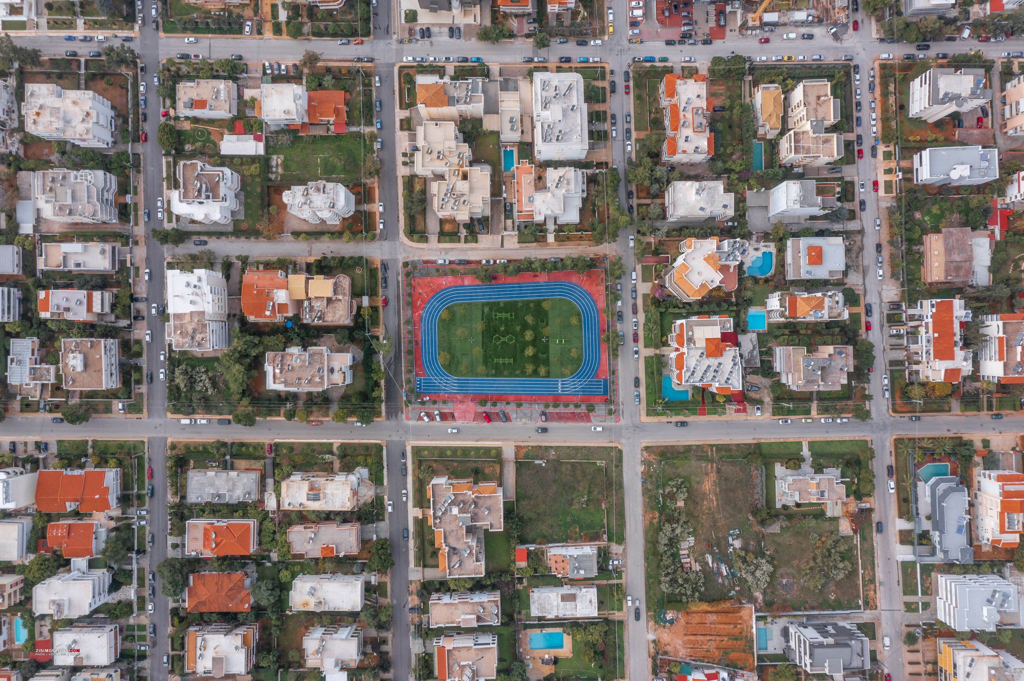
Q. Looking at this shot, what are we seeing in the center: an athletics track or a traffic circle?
athletics track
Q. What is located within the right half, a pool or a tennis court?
pool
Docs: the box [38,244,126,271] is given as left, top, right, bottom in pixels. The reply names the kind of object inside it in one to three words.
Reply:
house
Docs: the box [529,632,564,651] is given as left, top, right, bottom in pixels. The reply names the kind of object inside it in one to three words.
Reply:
swimming pool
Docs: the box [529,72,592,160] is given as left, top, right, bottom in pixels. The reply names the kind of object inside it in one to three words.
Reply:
building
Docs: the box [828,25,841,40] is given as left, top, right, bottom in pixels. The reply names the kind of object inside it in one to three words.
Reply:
vehicle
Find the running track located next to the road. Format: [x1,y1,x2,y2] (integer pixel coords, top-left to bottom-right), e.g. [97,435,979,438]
[411,269,609,403]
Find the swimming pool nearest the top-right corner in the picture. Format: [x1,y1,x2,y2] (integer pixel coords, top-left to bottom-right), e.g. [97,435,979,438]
[752,139,764,175]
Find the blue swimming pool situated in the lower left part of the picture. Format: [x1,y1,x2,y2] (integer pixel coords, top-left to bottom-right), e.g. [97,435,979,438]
[14,618,28,646]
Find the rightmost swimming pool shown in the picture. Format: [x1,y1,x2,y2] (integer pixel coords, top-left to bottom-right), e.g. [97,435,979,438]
[917,463,951,475]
